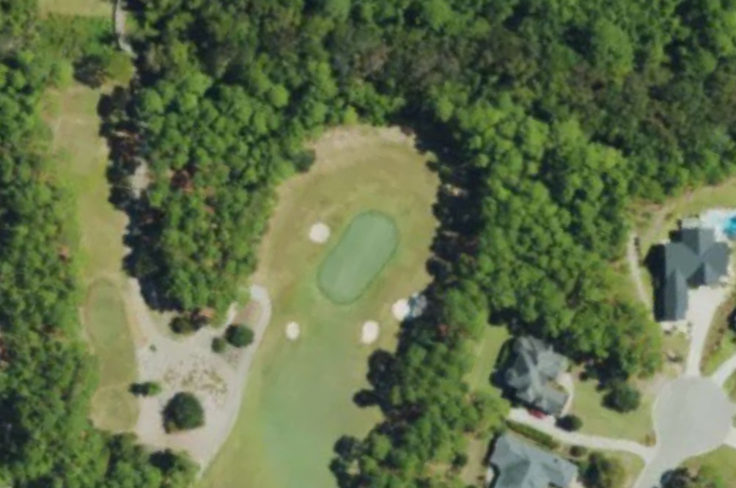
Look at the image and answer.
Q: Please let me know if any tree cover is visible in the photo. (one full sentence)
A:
Yes, tree cover shows up in the scene.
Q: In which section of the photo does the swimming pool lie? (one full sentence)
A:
The swimming pool appears toward the right of the photo.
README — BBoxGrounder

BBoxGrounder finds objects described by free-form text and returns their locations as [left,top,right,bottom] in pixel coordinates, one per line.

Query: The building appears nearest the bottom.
[491,432,580,488]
